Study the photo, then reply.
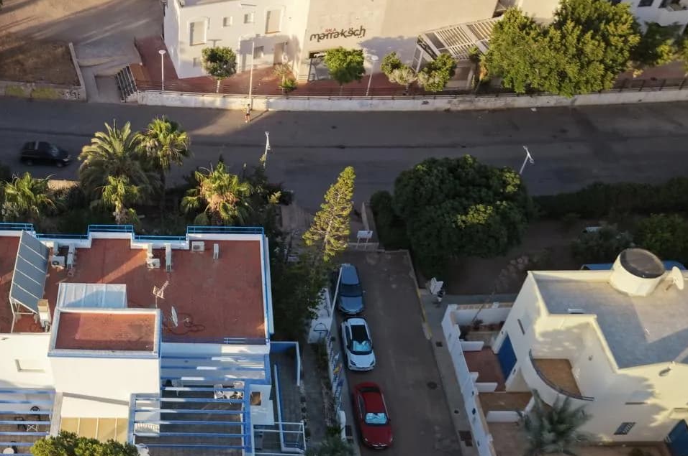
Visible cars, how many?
four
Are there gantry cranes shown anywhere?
No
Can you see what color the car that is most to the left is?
black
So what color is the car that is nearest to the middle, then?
blue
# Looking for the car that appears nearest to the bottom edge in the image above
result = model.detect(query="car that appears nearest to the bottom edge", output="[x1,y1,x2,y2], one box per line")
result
[356,381,404,453]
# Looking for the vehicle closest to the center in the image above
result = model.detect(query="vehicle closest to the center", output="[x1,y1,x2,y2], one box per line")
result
[336,259,374,313]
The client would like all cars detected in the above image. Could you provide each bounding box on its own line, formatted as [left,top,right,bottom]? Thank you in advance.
[13,138,76,172]
[344,313,387,374]
[356,381,404,453]
[336,259,374,313]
